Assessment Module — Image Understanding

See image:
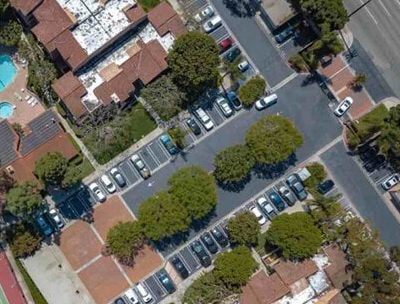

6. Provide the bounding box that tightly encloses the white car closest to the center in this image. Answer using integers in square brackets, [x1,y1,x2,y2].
[196,107,213,129]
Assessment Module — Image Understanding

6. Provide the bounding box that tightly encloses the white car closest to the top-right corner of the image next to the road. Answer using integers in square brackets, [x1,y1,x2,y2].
[335,96,352,117]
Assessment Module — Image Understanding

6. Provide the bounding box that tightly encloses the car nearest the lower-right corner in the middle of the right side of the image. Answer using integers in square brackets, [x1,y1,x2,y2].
[381,171,400,188]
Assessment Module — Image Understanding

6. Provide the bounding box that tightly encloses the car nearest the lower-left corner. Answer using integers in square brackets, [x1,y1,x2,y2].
[35,215,54,236]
